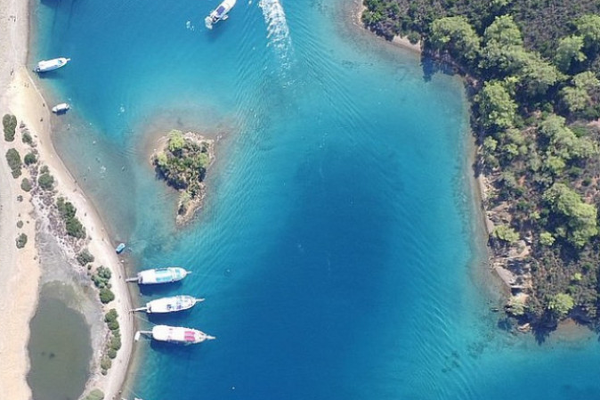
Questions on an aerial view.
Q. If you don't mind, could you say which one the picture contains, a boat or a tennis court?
boat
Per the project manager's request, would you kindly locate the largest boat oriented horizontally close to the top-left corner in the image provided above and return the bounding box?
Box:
[30,57,70,72]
